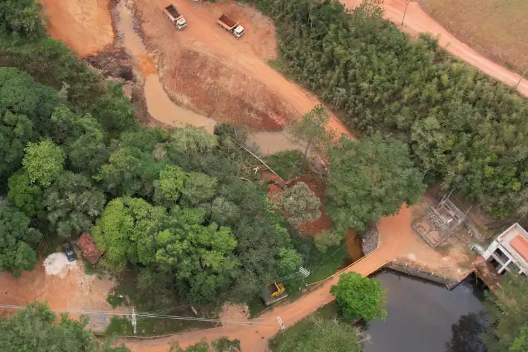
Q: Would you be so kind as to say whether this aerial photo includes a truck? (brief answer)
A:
Yes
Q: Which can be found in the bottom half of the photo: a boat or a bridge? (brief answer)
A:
bridge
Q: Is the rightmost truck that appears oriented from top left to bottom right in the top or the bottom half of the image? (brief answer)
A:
top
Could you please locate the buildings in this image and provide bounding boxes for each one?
[72,233,107,274]
[465,215,528,300]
